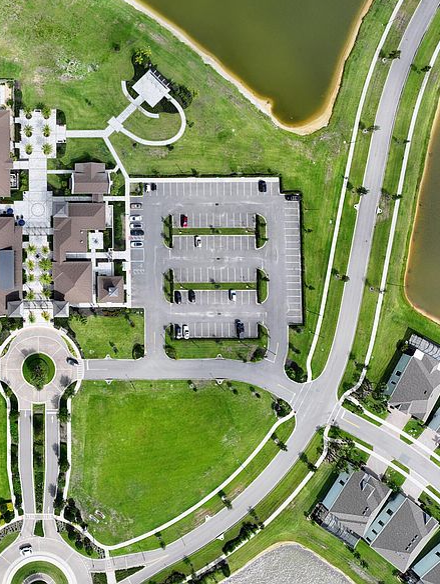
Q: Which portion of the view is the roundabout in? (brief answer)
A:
bottom left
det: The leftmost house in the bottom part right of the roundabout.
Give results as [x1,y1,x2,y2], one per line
[318,467,391,542]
